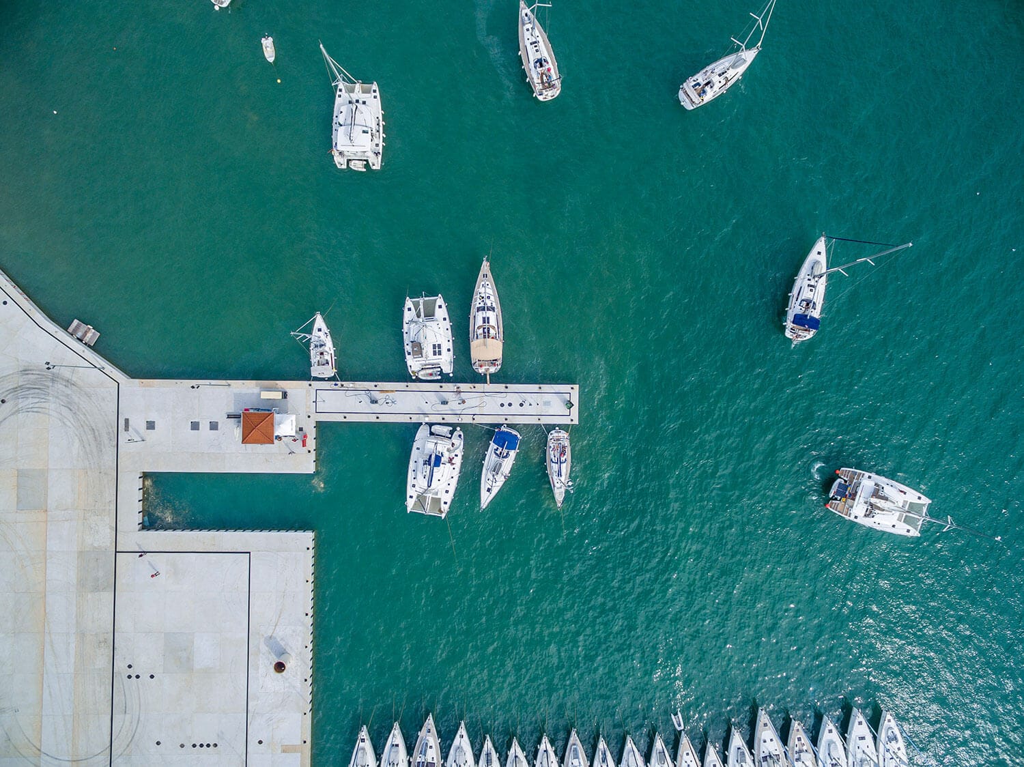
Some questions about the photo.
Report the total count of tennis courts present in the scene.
zero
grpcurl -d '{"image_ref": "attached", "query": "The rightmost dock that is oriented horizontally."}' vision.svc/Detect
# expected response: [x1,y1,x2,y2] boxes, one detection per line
[314,381,578,424]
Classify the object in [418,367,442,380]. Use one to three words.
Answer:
boat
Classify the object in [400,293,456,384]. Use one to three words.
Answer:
boat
